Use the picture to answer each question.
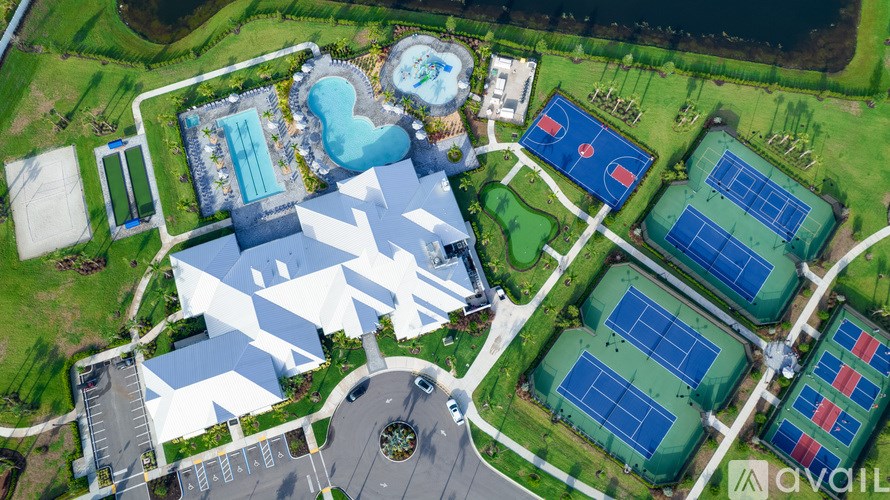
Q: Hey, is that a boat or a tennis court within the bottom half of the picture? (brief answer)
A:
tennis court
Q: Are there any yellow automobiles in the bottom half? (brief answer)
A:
No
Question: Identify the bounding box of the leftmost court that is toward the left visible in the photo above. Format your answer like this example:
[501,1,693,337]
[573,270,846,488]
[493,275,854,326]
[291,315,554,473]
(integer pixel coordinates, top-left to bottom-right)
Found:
[5,145,92,260]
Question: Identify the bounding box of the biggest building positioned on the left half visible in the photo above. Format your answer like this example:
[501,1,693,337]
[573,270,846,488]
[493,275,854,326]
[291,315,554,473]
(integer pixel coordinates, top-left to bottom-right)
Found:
[142,159,494,443]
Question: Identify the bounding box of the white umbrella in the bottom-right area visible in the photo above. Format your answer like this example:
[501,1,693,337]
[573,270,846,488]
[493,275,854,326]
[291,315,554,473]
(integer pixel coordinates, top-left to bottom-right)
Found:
[780,365,795,379]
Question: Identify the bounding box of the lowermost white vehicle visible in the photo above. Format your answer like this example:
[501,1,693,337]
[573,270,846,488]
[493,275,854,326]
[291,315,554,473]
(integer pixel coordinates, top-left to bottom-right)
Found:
[447,398,464,425]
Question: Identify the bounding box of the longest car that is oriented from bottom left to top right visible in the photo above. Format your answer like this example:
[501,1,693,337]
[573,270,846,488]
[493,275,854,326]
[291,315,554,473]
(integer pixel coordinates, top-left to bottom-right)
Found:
[346,383,368,403]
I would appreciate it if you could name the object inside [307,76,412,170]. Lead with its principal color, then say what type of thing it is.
blue swimming pool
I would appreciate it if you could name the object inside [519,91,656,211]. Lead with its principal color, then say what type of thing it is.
blue basketball court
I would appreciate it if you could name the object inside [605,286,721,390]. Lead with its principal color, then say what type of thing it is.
blue tennis court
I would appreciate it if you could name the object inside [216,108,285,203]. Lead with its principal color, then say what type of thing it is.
blue swimming pool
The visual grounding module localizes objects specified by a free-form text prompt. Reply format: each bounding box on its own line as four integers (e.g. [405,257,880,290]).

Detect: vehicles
[413,377,435,395]
[346,383,368,403]
[447,398,464,425]
[120,358,132,367]
[79,382,95,390]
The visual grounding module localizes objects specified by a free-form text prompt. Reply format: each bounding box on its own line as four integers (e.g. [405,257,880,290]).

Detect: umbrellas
[298,146,309,157]
[458,81,468,91]
[416,131,426,141]
[412,121,422,130]
[780,365,795,379]
[267,121,278,131]
[204,144,216,154]
[217,170,229,180]
[311,160,322,171]
[294,73,304,83]
[382,103,393,112]
[293,112,303,122]
[302,63,313,74]
[229,94,240,104]
[393,105,403,116]
[296,122,307,132]
[319,166,329,177]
